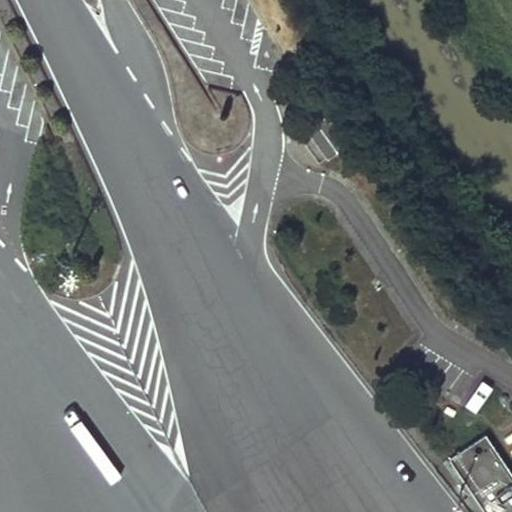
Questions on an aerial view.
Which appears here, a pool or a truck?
truck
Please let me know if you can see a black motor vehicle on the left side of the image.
No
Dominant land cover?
paved ground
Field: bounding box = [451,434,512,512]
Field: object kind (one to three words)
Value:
building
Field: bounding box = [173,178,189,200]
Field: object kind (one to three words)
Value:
car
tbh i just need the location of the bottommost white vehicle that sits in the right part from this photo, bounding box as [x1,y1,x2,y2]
[395,460,412,482]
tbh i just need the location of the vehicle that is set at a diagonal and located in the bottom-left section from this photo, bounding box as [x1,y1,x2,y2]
[63,408,122,486]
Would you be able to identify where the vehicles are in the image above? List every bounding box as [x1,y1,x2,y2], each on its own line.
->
[395,460,412,482]
[466,380,494,412]
[173,178,189,200]
[63,408,122,486]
